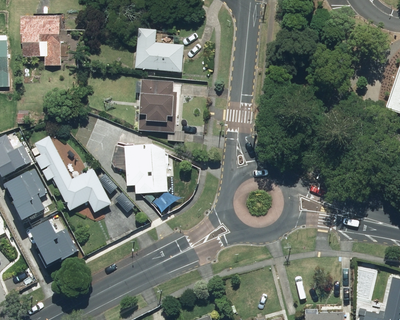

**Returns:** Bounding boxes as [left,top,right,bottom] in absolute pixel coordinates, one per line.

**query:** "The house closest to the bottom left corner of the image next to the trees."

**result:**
[27,222,78,266]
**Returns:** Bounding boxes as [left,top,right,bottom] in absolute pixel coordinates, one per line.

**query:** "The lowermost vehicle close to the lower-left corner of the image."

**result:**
[28,302,46,316]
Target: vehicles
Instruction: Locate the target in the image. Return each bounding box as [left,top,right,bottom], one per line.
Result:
[310,288,320,304]
[188,44,202,58]
[28,302,46,316]
[258,294,268,310]
[184,126,198,134]
[344,220,362,228]
[342,270,350,286]
[296,276,306,300]
[308,185,322,196]
[343,288,351,304]
[104,263,119,274]
[334,282,342,298]
[21,276,36,288]
[183,33,199,45]
[246,142,257,158]
[13,272,29,284]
